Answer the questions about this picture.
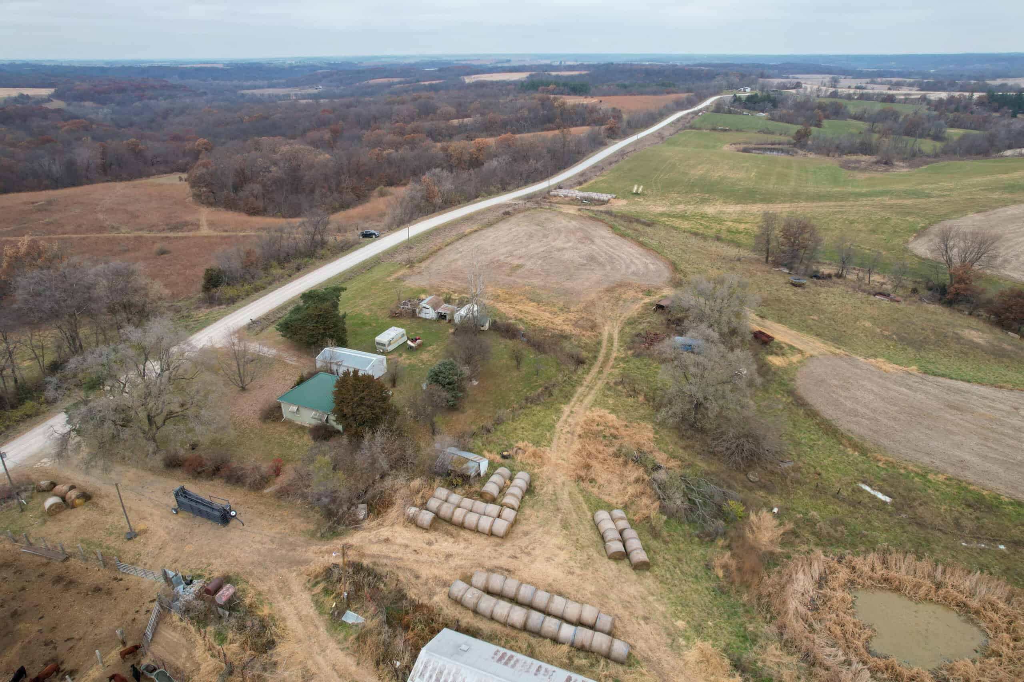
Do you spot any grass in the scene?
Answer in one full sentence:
Yes, some grass is visible.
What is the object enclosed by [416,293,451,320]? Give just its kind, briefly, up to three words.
shed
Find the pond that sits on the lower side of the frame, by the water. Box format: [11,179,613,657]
[856,591,981,671]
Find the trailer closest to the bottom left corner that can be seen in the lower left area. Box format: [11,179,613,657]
[172,491,236,528]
